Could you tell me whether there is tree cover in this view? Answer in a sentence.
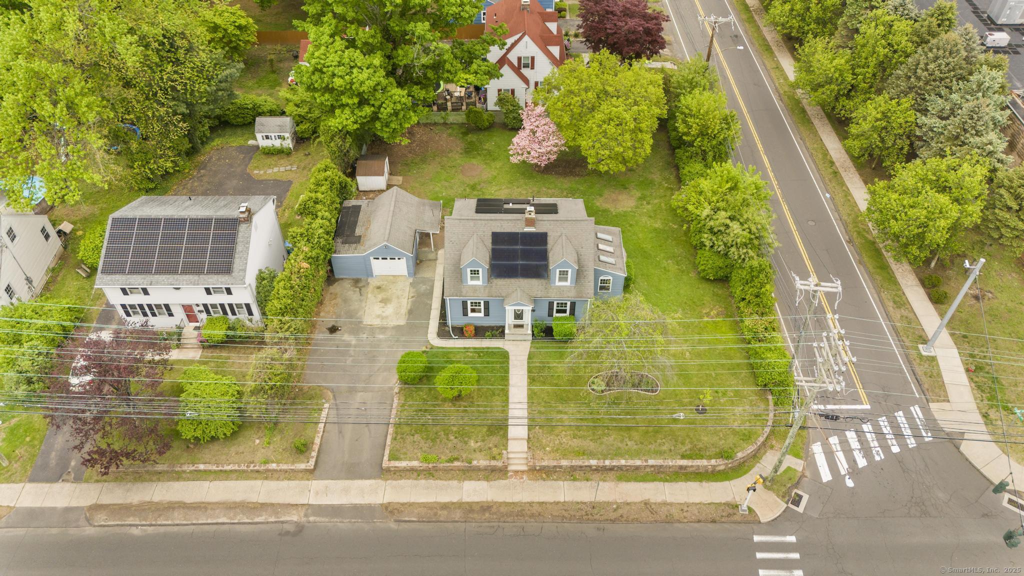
Yes, some tree cover is visible.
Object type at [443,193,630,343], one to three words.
house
